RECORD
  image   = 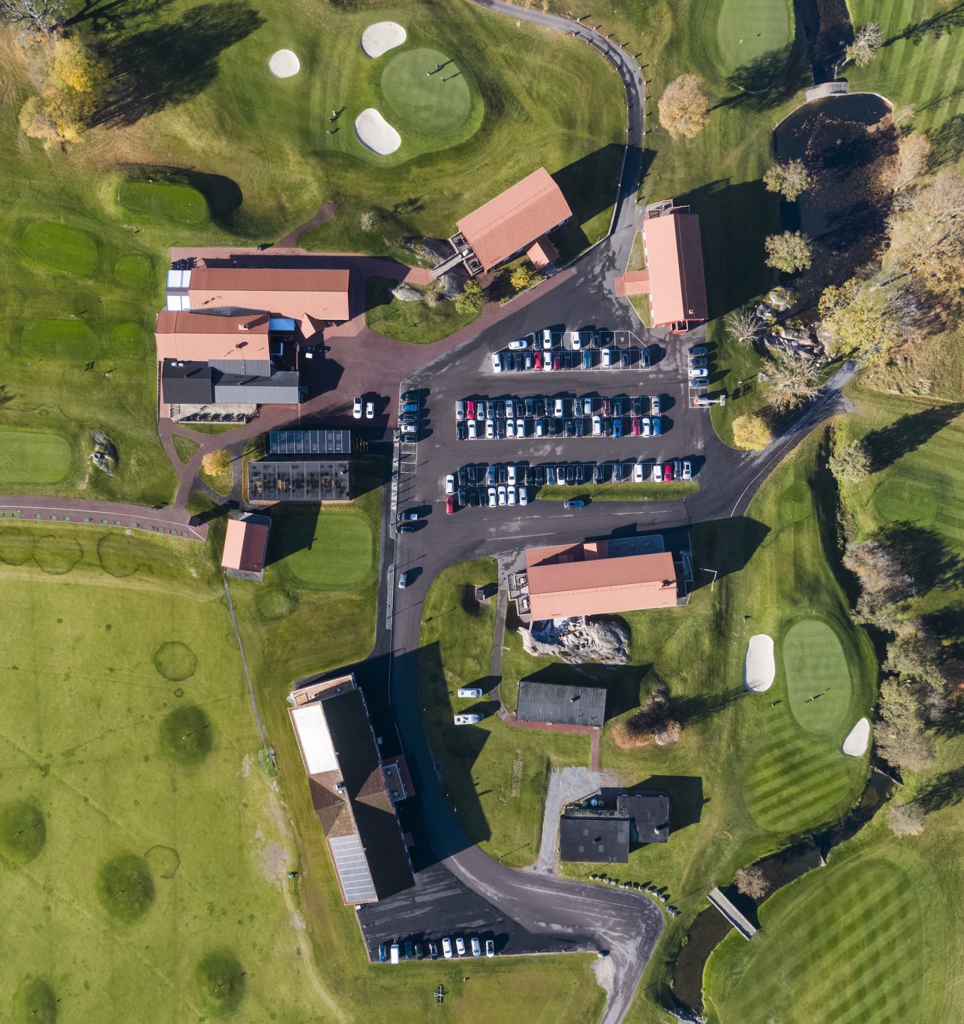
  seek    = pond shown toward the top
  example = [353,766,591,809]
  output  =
[776,95,897,323]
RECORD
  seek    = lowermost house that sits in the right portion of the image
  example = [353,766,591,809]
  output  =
[560,787,670,863]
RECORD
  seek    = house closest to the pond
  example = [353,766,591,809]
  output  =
[623,199,709,337]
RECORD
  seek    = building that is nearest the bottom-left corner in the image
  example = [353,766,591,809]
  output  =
[287,672,415,905]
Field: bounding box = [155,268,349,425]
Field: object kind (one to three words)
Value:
building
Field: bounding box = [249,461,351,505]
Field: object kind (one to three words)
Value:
shed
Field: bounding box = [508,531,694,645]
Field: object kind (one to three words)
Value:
house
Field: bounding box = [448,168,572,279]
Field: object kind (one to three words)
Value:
house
